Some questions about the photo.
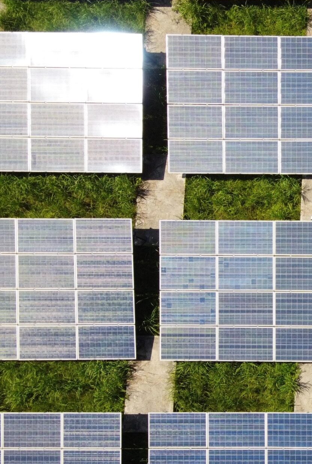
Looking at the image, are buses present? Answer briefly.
No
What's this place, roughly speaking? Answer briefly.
solar farm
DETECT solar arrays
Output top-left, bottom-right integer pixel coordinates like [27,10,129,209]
[149,412,312,464]
[0,33,157,173]
[159,220,312,362]
[0,218,147,361]
[0,411,137,464]
[167,36,312,174]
